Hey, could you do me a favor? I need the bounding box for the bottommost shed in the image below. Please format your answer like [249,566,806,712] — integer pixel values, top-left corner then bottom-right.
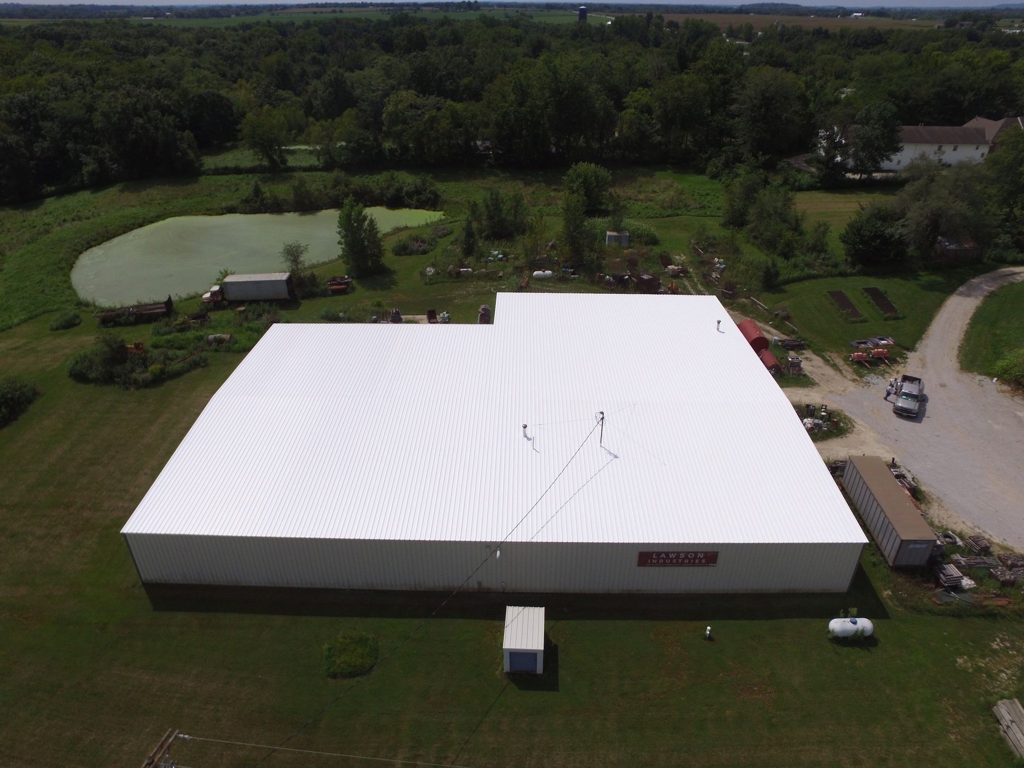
[504,607,545,674]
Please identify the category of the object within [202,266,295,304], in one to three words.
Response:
truck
